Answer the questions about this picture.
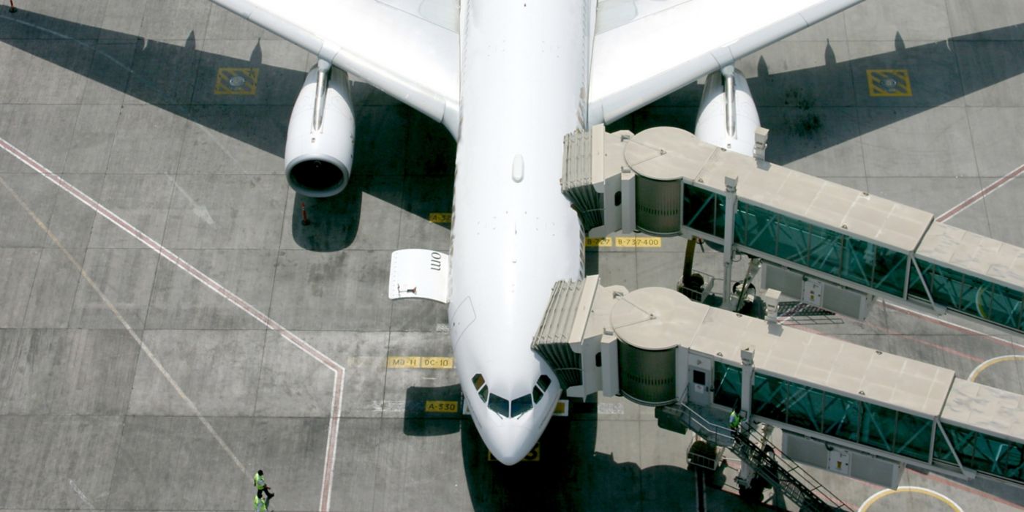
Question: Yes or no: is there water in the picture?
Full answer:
No, water can't be seen anywhere here.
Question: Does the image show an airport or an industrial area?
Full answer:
The picture captures an airport.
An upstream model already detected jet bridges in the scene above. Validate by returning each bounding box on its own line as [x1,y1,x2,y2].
[531,271,1024,512]
[557,120,1024,349]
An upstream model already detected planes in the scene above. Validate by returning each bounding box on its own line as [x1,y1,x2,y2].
[207,0,866,466]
